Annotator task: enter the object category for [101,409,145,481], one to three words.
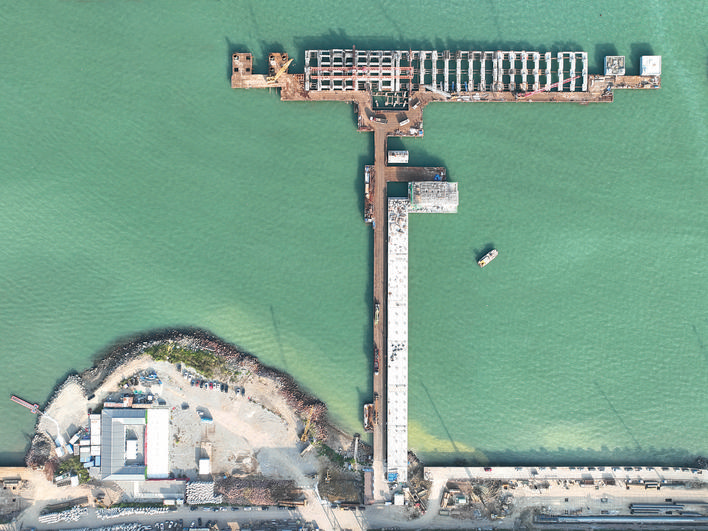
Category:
building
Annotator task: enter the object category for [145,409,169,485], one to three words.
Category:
building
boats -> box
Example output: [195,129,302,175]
[478,250,498,268]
